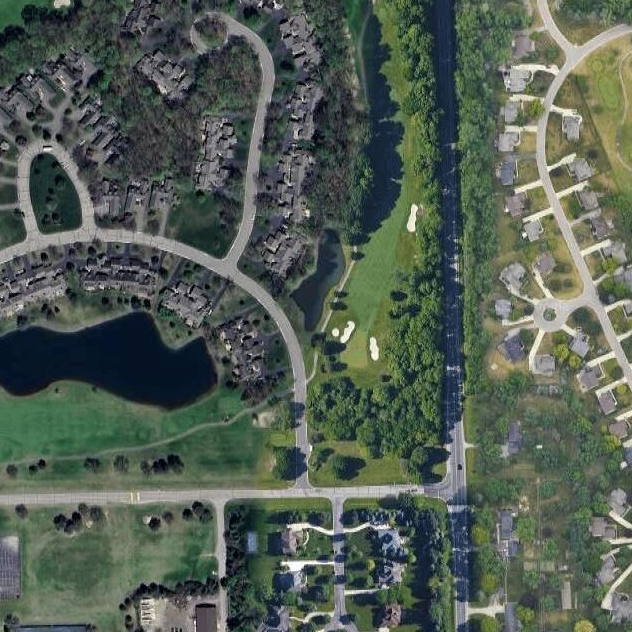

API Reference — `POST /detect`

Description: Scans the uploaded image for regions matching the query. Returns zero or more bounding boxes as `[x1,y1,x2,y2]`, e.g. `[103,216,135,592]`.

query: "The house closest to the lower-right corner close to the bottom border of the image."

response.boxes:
[608,598,632,620]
